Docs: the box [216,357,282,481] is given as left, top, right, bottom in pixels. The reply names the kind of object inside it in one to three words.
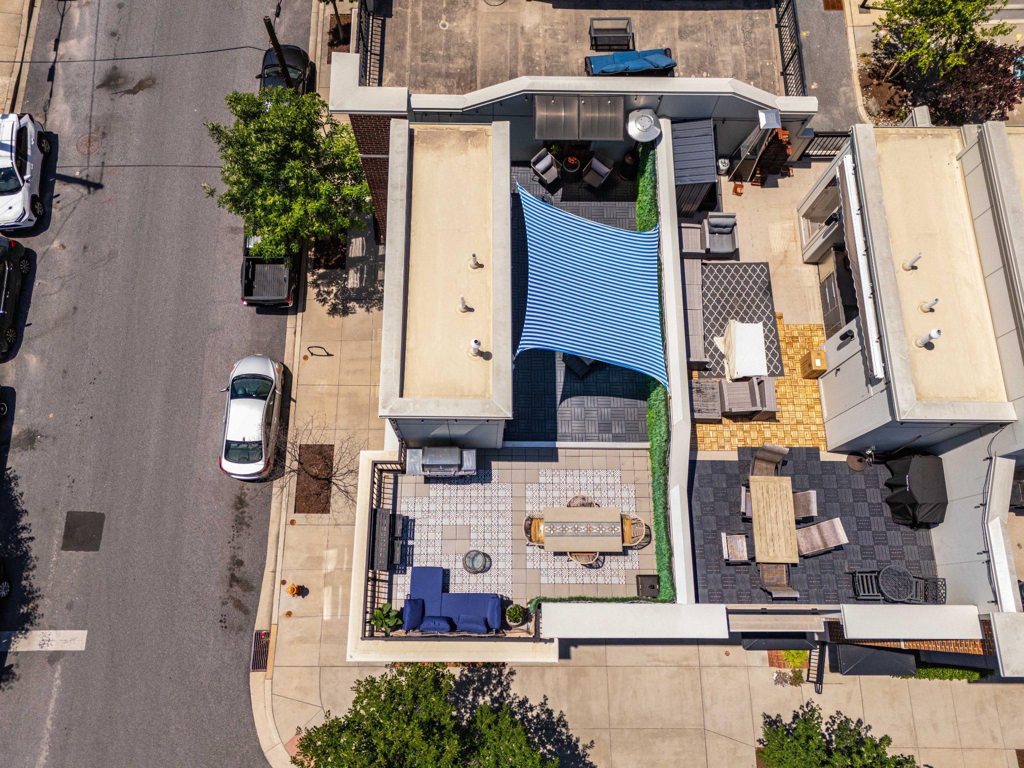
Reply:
car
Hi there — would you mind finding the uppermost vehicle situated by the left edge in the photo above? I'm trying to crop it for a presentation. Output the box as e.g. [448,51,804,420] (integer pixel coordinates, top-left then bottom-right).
[0,112,52,233]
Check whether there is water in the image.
No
